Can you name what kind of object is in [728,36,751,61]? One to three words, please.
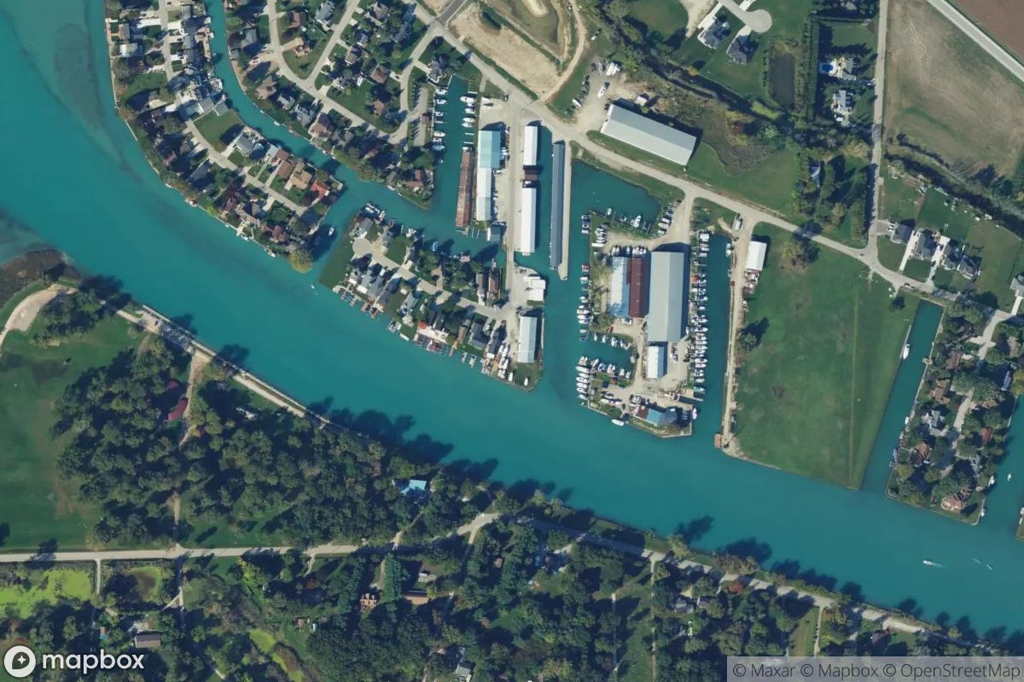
house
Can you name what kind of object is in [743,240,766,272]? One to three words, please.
shed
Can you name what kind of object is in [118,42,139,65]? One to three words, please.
house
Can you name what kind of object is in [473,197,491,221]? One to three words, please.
building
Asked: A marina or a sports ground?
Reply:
marina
